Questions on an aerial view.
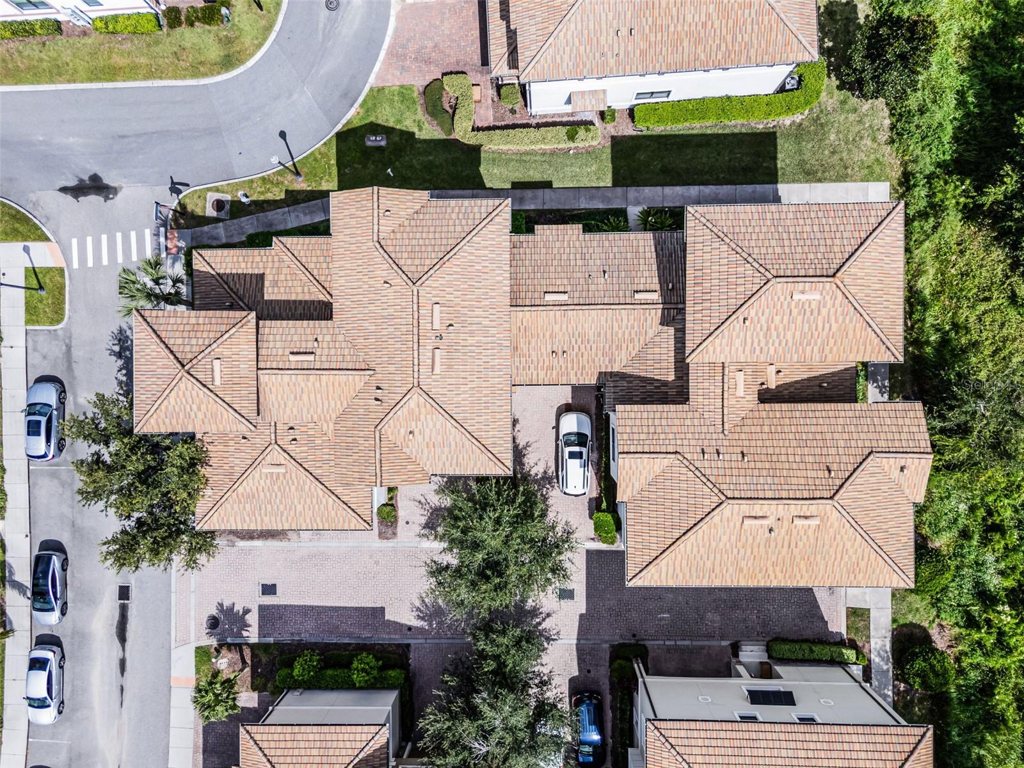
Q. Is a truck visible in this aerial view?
No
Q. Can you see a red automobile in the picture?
No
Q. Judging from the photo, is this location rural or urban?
urban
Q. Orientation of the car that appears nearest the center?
up and down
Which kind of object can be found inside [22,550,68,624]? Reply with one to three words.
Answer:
car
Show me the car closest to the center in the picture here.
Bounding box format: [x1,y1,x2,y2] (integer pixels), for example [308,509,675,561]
[554,410,595,496]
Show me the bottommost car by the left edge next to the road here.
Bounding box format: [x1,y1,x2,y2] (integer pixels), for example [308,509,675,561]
[19,644,64,722]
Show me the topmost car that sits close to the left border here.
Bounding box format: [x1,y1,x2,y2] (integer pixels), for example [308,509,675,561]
[19,381,66,460]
